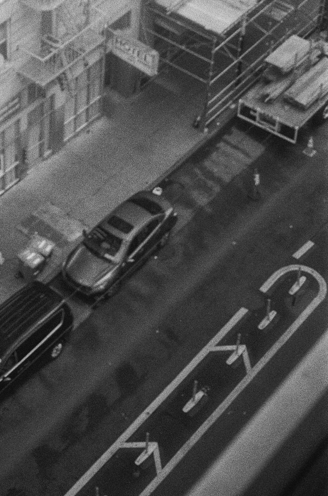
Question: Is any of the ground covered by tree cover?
No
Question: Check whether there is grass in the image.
No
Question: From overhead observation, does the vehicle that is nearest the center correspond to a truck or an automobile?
automobile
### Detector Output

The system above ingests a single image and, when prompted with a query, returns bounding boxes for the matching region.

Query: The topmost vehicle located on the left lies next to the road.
[59,179,191,300]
